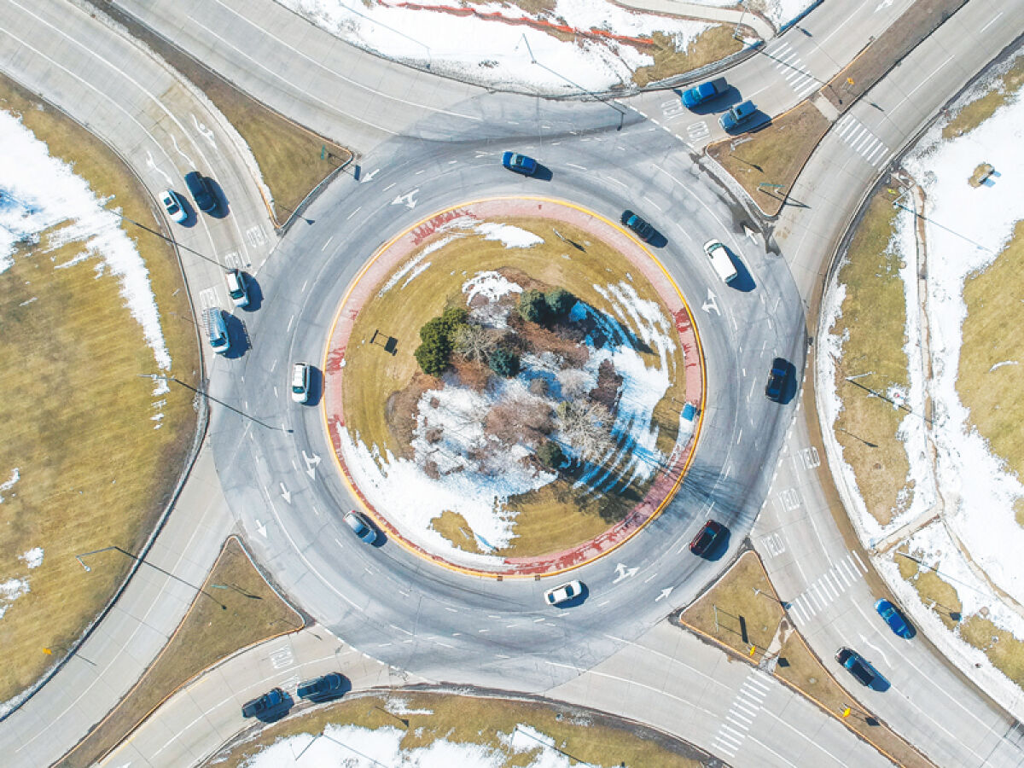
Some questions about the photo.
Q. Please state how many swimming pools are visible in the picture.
none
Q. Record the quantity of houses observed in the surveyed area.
zero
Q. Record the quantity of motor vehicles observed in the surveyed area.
18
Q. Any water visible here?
No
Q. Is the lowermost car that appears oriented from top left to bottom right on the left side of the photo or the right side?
right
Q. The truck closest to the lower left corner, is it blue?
Yes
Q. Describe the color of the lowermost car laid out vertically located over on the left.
white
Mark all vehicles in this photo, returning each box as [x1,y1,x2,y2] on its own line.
[157,186,186,225]
[290,362,310,403]
[499,150,537,173]
[836,648,877,690]
[341,509,376,547]
[767,359,788,401]
[223,267,249,308]
[618,208,656,240]
[704,237,738,283]
[542,581,583,606]
[688,520,722,558]
[204,307,230,354]
[877,599,913,640]
[294,674,342,702]
[680,75,731,108]
[180,168,214,213]
[718,97,758,129]
[238,688,291,720]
